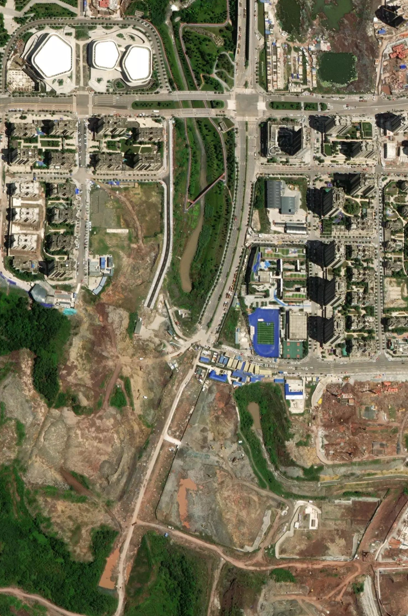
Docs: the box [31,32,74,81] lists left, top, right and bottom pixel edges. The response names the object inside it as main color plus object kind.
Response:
white stadium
